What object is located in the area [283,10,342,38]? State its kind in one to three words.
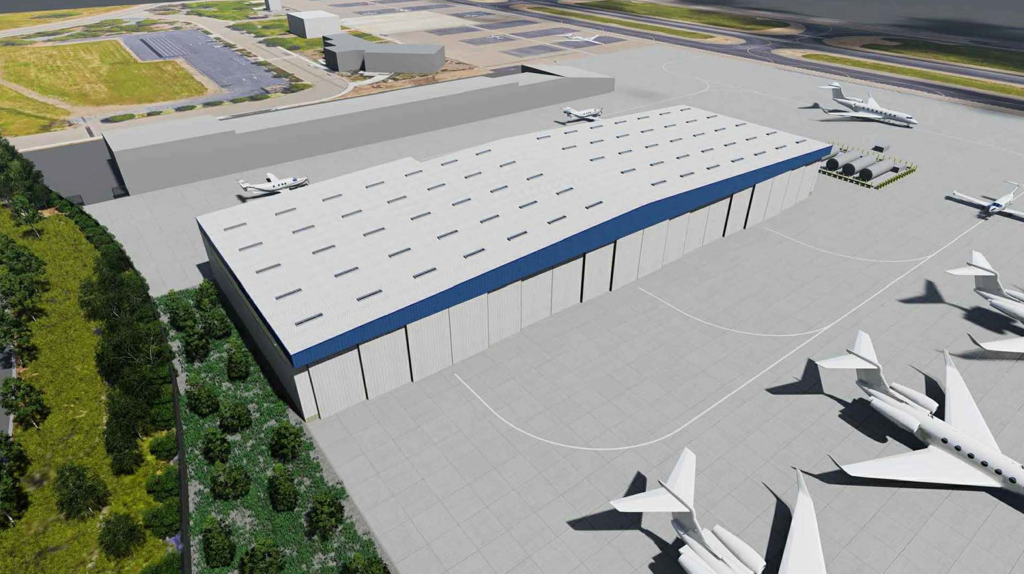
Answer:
building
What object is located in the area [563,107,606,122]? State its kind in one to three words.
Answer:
airplane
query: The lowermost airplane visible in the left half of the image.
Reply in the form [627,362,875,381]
[238,172,309,192]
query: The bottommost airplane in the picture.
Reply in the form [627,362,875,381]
[609,451,828,574]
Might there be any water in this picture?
No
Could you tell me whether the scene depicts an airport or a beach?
airport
